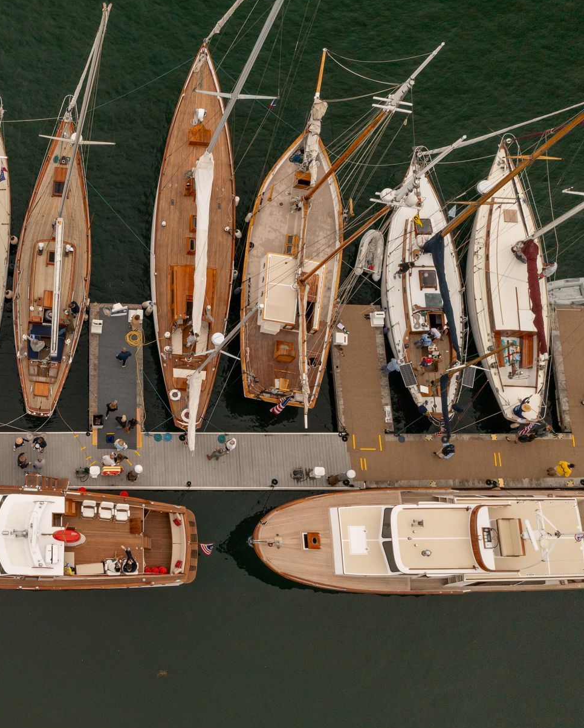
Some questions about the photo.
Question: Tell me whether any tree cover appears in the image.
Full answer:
No, there's no tree cover in this view.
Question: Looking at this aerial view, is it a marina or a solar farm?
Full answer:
It's a marina.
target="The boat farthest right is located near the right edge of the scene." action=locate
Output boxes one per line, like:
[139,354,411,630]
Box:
[548,276,584,306]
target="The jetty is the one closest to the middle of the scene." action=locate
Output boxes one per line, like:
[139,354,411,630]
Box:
[333,305,393,433]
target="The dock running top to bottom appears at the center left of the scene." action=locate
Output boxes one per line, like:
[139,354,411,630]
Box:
[88,304,143,433]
